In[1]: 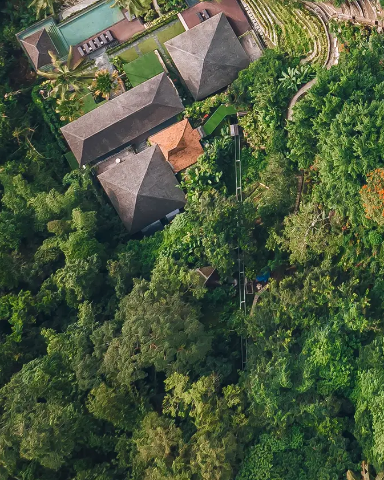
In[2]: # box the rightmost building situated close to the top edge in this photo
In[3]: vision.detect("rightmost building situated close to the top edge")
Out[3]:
[164,11,252,102]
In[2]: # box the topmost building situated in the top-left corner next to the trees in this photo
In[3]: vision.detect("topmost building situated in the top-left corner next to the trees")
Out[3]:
[20,27,63,71]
